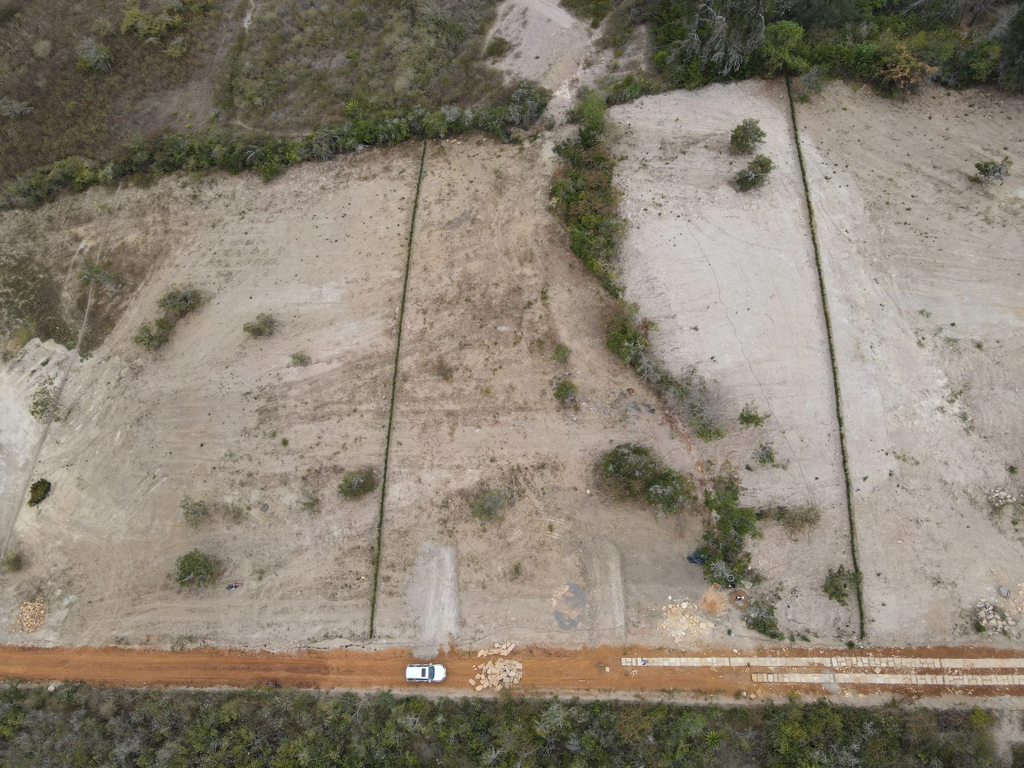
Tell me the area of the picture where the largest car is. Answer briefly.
bottom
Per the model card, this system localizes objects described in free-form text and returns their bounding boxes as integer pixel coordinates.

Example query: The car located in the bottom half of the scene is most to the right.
[404,662,447,684]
